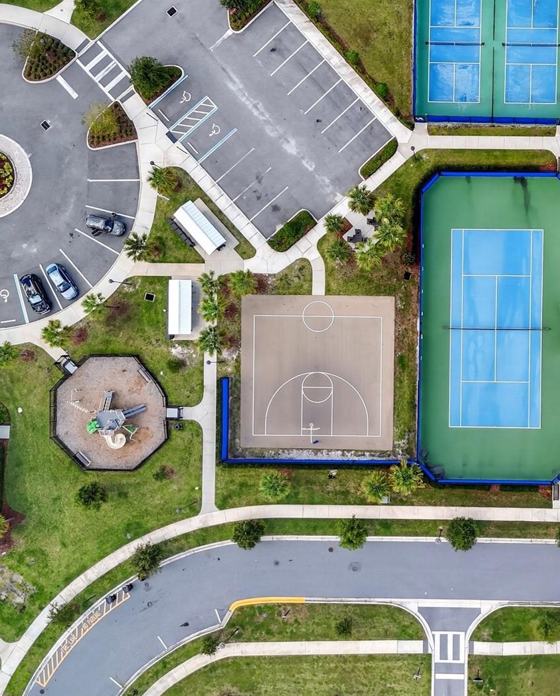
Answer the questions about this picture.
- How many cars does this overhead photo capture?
3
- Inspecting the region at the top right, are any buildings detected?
No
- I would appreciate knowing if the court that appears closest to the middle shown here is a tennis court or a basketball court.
basketball court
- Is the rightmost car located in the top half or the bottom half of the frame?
top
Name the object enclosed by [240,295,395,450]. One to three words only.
basketball court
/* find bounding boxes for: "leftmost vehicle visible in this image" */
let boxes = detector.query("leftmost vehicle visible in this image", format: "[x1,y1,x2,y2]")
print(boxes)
[19,272,53,314]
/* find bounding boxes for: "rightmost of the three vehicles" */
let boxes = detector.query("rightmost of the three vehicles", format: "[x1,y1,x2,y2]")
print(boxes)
[85,215,129,240]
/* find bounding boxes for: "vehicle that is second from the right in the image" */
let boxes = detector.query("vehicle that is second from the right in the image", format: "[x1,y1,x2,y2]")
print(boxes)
[46,262,79,300]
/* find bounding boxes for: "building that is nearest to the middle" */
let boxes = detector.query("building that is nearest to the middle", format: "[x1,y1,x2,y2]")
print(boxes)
[168,279,197,334]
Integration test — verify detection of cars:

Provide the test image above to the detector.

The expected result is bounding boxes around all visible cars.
[19,272,53,314]
[46,262,79,300]
[85,215,129,240]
